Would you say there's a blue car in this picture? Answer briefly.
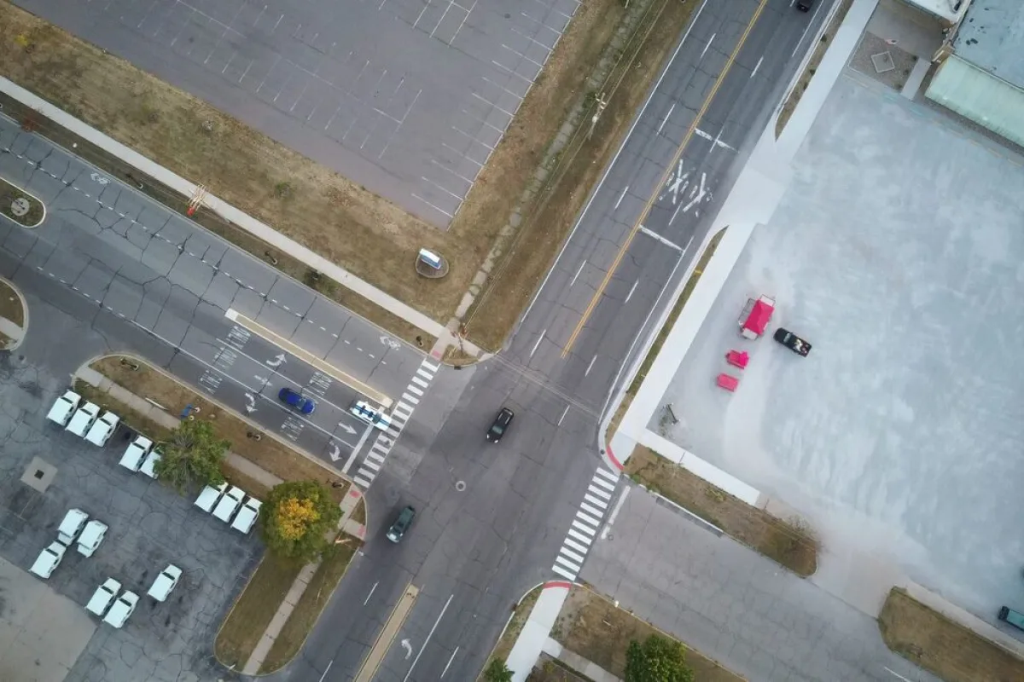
Yes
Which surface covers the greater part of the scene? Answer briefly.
paved ground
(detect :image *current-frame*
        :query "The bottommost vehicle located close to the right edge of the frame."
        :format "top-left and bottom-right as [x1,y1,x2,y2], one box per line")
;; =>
[992,600,1024,632]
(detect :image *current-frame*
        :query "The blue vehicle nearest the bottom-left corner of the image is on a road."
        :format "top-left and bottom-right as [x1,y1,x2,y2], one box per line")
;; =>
[277,386,316,413]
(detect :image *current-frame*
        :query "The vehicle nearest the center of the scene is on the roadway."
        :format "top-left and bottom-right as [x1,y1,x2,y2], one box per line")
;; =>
[487,406,515,444]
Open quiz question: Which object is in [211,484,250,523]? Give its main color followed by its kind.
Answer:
white van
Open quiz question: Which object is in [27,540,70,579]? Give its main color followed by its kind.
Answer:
white van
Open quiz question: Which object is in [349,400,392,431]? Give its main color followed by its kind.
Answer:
white car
